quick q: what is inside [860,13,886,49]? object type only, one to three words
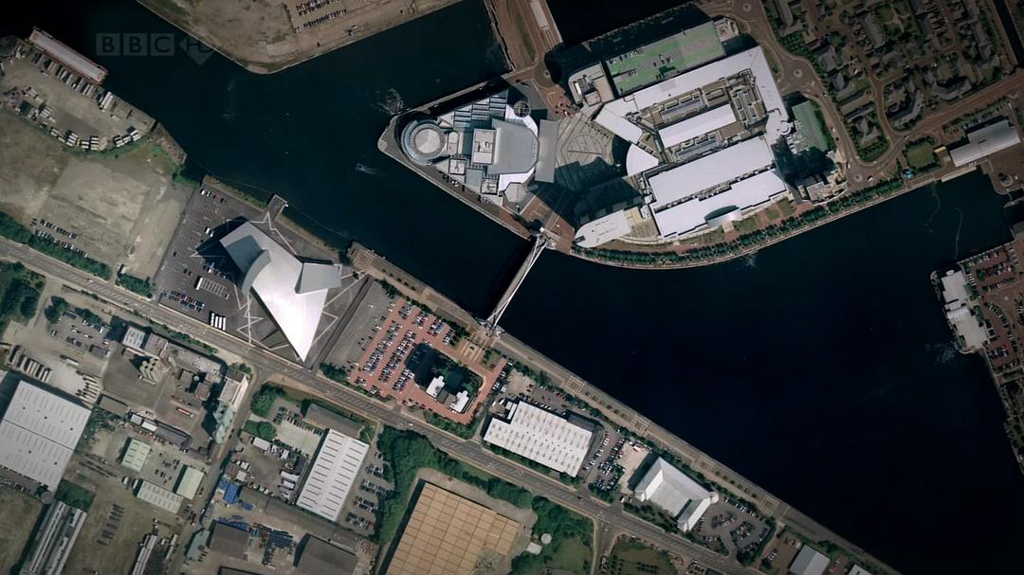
house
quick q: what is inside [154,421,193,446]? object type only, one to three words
shed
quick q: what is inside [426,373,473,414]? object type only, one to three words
building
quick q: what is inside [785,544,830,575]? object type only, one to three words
shed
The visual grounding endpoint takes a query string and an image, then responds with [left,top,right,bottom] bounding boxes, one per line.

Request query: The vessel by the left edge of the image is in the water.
[29,28,108,80]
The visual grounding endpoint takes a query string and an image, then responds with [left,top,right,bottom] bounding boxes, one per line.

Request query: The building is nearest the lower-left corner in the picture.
[17,500,90,575]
